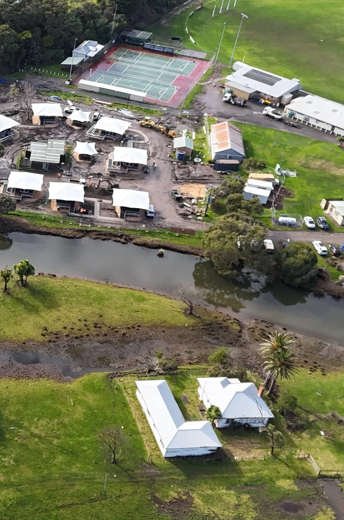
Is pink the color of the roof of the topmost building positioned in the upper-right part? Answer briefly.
No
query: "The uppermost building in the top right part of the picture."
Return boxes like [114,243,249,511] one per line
[225,61,312,106]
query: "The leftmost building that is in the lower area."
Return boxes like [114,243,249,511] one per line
[135,378,223,457]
